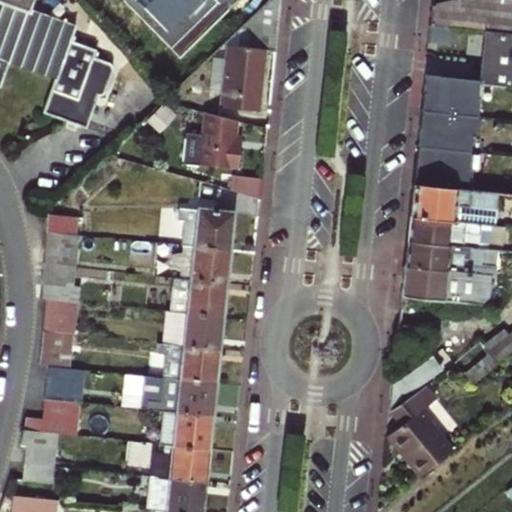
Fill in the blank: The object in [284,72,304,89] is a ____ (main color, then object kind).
white car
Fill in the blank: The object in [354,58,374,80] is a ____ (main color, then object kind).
white car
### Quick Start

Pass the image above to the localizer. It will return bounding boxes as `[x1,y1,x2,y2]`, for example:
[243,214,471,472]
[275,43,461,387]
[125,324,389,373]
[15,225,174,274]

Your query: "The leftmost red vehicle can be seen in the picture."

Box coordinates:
[244,446,264,464]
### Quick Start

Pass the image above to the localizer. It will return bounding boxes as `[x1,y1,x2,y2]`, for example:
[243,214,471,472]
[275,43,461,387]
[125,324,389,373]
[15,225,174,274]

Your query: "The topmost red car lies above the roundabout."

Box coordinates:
[316,160,334,180]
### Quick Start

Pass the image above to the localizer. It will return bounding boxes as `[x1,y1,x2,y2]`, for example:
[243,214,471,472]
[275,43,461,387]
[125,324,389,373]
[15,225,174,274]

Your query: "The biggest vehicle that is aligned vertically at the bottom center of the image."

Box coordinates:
[249,402,261,432]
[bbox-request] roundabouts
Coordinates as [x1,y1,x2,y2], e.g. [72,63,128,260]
[260,288,382,402]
